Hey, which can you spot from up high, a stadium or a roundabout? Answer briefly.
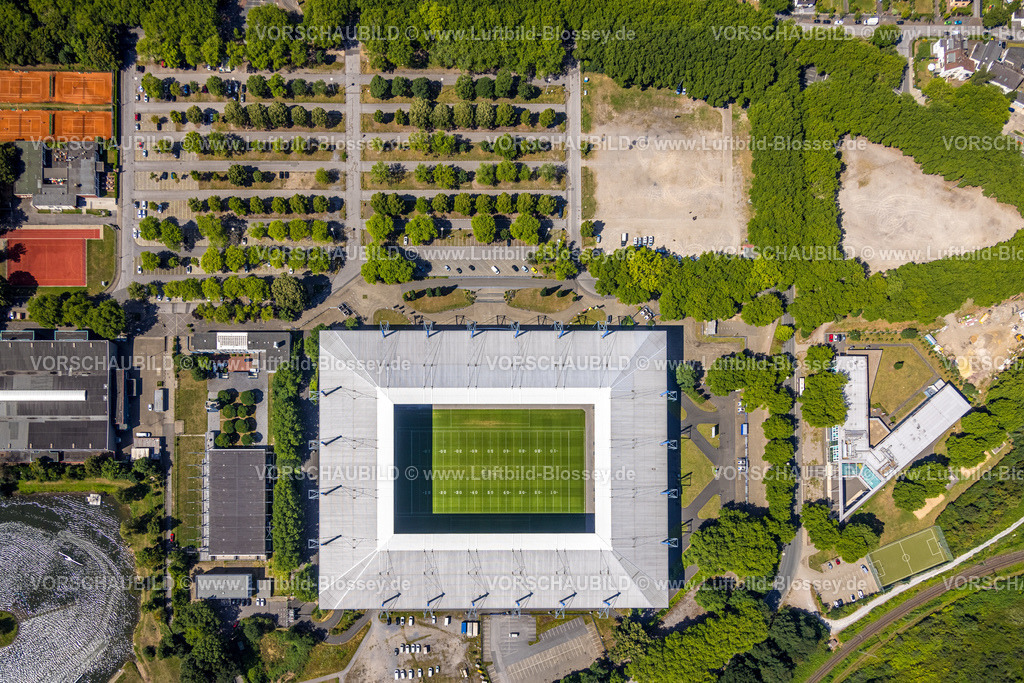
stadium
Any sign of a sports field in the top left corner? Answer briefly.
No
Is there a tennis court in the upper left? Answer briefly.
Yes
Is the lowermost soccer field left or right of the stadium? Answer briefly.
to the right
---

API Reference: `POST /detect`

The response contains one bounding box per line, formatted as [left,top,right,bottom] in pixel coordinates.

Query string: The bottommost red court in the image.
[6,238,87,287]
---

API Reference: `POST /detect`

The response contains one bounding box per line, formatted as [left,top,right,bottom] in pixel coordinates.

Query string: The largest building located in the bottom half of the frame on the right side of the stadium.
[829,356,970,523]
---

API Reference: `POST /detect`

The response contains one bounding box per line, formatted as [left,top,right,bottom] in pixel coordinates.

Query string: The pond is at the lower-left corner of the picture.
[0,492,141,683]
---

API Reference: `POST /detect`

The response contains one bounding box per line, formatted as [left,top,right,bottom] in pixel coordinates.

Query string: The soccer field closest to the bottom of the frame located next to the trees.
[870,526,952,583]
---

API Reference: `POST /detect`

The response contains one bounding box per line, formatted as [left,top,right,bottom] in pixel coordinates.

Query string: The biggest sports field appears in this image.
[394,404,595,534]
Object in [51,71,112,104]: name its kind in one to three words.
tennis court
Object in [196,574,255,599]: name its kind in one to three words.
building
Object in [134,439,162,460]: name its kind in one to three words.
shed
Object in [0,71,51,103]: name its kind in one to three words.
tennis court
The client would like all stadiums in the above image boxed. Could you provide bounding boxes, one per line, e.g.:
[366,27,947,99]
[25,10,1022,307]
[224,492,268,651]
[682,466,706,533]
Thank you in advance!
[311,325,675,616]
